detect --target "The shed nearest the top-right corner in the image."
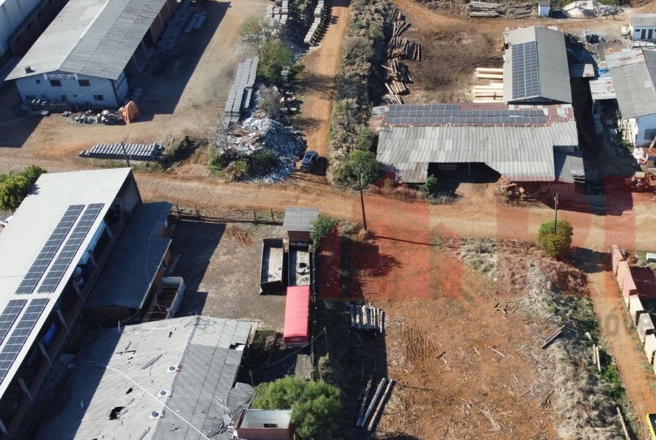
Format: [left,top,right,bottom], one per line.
[631,17,656,37]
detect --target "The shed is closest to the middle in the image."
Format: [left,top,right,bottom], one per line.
[282,209,318,246]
